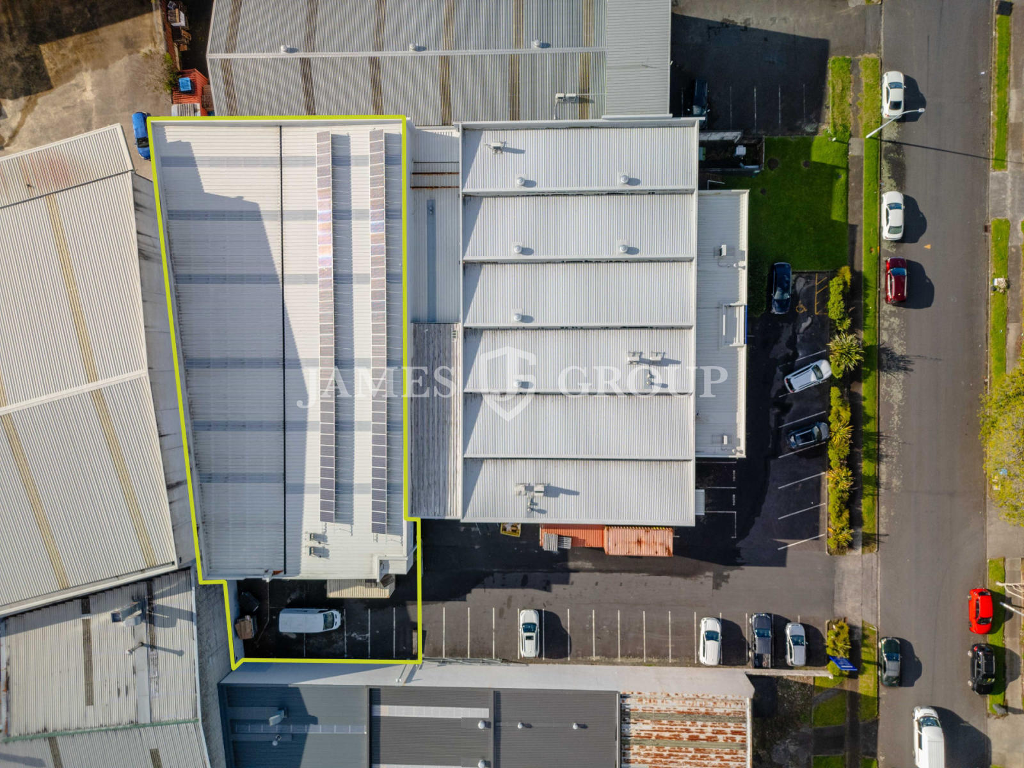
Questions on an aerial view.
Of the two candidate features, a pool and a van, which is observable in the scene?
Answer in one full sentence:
There is a van in the scene.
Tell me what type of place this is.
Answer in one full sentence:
The picture captures an industrial area.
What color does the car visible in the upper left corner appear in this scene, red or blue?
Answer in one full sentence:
From above, the car visible in the upper left corner appears blue.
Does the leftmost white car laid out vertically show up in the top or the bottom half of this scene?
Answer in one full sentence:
Seen from above, the leftmost white car laid out vertically lies in the bottom half of the view.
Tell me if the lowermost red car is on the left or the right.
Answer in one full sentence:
The lowermost red car is on the right side of the image.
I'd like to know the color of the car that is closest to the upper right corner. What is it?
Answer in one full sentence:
The car that is closest to the upper right corner looks white in the image.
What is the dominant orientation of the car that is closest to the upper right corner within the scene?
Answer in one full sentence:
In this picture, the car that is closest to the upper right corner is oriented from top to bottom.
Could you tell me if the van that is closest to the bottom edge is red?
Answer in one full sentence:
No, the van that is closest to the bottom edge is actually white.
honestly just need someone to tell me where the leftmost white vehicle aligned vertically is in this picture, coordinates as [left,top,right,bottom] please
[518,609,541,658]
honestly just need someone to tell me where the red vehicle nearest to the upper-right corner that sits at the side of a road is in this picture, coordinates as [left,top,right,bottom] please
[884,258,910,304]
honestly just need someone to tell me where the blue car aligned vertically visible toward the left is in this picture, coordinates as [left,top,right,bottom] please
[130,112,155,161]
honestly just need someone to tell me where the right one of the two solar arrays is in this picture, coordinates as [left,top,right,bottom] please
[370,128,398,543]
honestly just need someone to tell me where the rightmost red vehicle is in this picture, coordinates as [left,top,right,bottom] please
[967,588,995,634]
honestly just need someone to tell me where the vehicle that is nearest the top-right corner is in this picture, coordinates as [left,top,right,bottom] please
[881,72,906,120]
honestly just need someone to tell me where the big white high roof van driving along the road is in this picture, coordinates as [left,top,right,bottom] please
[911,703,950,768]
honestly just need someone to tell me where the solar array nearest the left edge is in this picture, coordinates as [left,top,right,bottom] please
[317,130,347,533]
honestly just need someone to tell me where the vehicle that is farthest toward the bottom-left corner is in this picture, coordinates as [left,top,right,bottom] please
[277,607,342,635]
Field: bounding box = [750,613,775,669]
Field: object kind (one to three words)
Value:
truck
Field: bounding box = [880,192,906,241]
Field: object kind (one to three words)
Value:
car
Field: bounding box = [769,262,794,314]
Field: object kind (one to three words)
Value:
car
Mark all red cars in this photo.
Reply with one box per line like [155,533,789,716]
[967,588,995,634]
[884,258,910,304]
